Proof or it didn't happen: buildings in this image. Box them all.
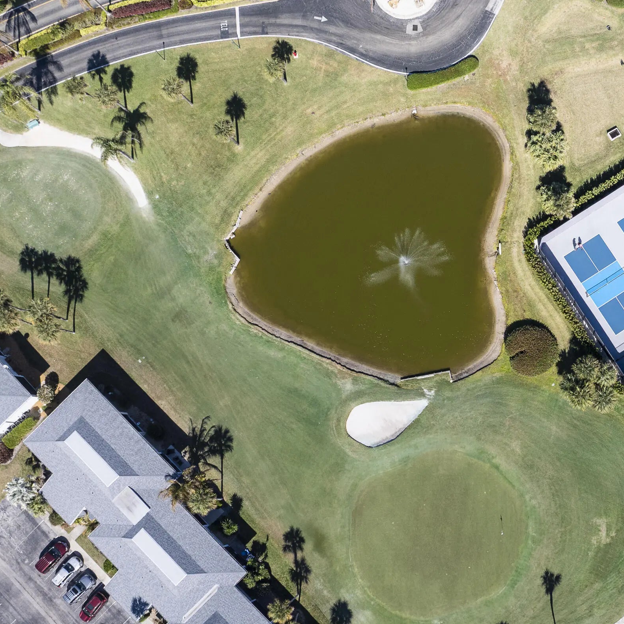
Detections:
[0,333,53,438]
[24,379,283,624]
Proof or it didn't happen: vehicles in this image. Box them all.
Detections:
[79,590,110,623]
[49,556,84,589]
[32,541,70,575]
[61,573,97,607]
